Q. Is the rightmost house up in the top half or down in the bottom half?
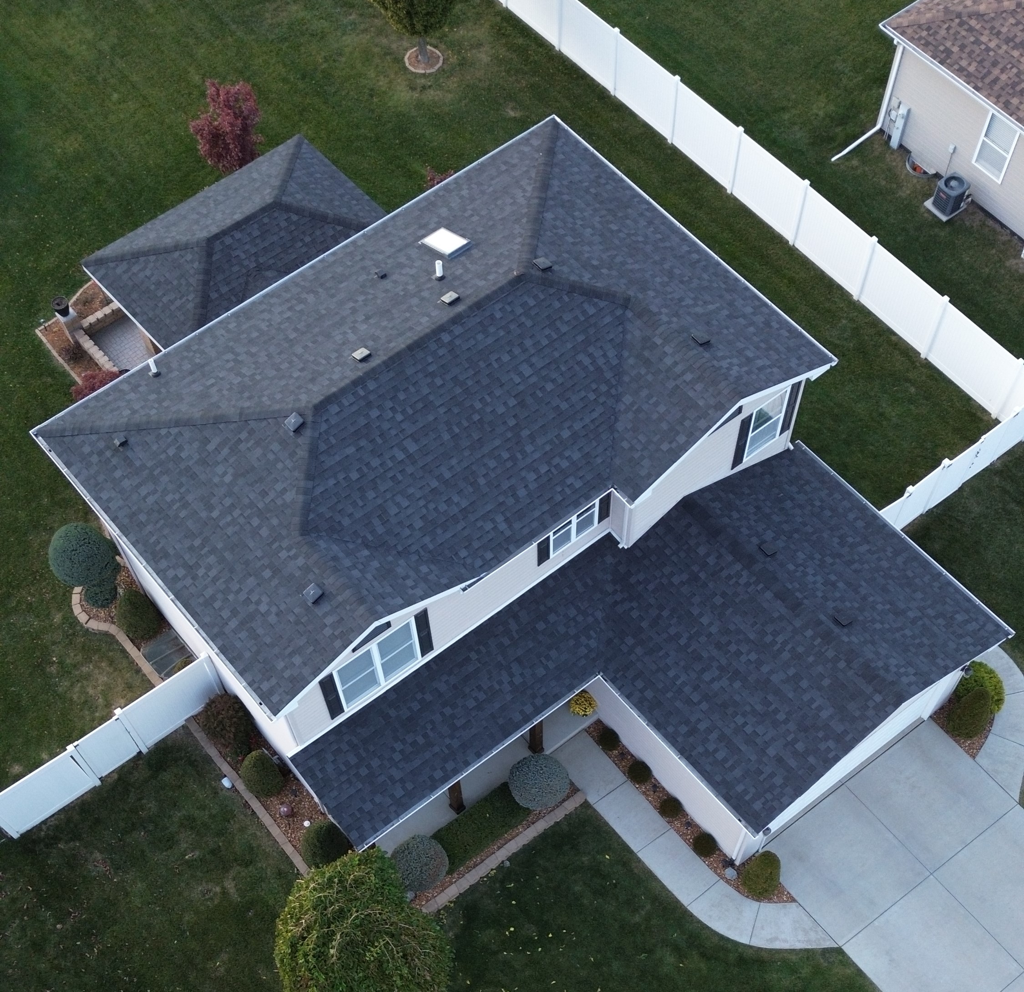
top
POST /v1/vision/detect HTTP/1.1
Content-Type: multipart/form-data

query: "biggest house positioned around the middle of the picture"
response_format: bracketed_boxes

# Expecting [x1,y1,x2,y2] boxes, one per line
[30,115,1014,868]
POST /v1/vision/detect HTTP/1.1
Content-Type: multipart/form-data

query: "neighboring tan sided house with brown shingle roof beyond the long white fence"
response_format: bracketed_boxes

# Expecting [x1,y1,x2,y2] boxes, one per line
[831,0,1024,265]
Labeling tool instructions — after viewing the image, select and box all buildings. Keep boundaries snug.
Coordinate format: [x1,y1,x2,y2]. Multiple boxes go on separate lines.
[30,115,1014,868]
[831,0,1024,265]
